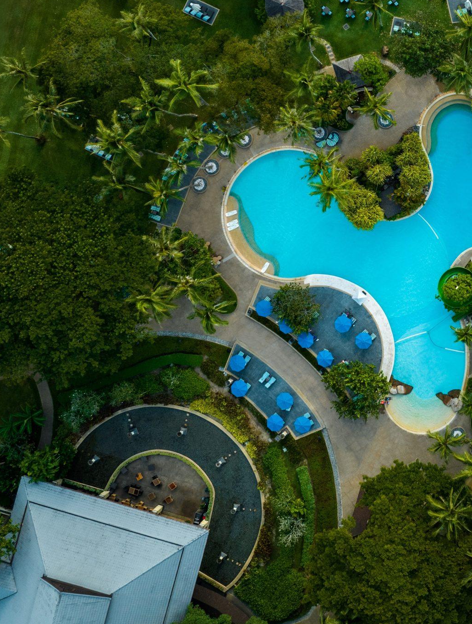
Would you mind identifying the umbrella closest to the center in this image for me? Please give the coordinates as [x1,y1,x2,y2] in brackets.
[257,299,274,317]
